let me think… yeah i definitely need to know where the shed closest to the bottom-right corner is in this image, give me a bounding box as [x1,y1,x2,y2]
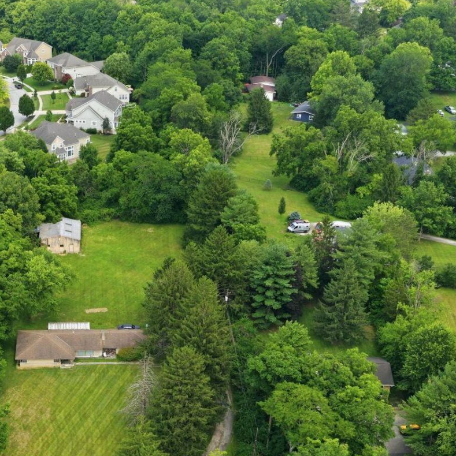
[364,361,394,396]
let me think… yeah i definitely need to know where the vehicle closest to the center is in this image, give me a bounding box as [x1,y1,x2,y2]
[287,219,312,232]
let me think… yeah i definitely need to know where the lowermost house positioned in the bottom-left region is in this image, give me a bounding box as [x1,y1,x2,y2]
[12,327,148,375]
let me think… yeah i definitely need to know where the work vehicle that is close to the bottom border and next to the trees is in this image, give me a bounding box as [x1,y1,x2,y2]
[398,422,420,435]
